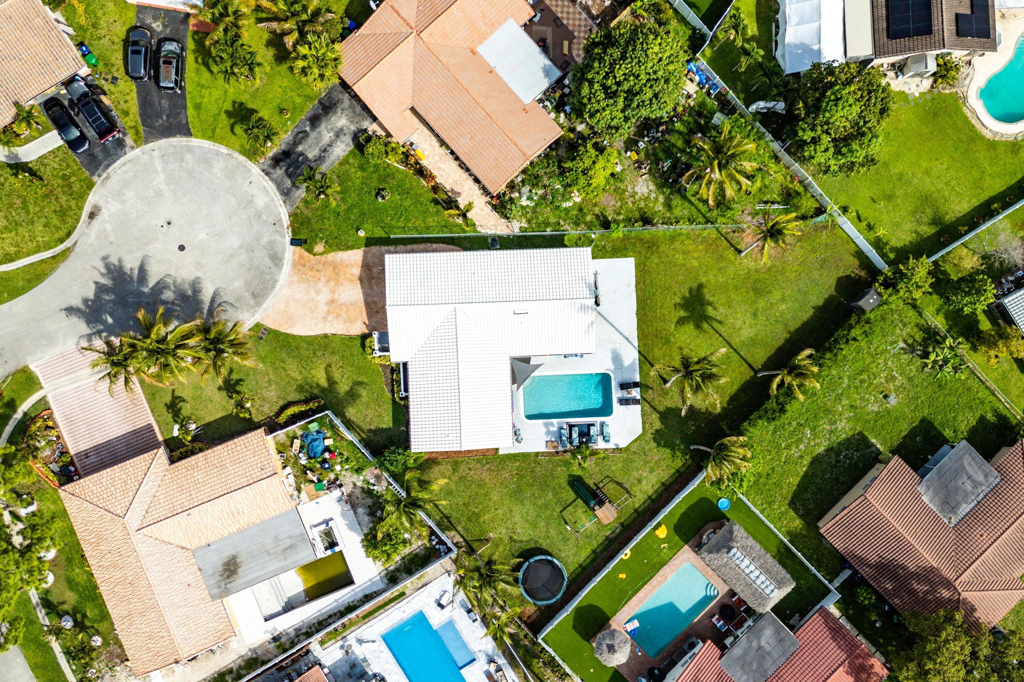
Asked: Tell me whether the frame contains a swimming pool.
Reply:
Yes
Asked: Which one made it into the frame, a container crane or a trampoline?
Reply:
trampoline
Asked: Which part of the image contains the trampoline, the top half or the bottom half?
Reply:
bottom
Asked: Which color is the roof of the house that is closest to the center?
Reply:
white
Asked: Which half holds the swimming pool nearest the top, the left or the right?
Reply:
right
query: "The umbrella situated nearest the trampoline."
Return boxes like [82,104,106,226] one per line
[590,624,633,667]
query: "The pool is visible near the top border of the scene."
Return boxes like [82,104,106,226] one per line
[975,30,1024,126]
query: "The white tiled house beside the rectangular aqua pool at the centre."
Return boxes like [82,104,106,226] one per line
[373,247,595,452]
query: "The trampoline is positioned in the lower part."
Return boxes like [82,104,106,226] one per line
[520,555,569,612]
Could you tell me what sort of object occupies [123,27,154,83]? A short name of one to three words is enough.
car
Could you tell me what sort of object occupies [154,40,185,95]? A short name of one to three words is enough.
car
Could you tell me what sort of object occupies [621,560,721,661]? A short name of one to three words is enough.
swimming pool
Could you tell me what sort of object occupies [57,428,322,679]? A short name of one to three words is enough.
house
